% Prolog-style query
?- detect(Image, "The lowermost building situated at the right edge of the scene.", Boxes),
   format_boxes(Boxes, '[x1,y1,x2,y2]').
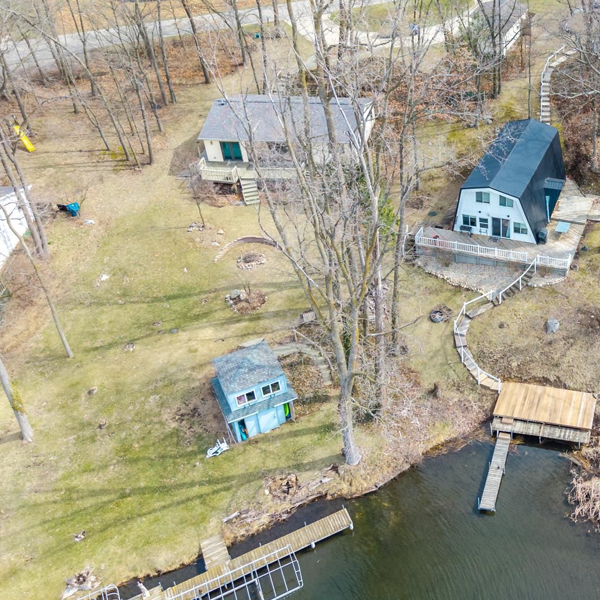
[491,383,596,456]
